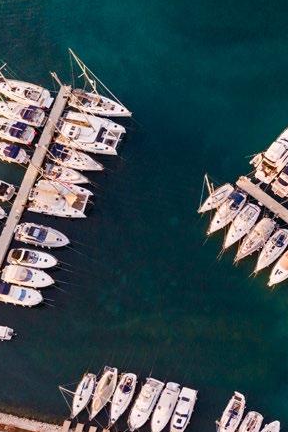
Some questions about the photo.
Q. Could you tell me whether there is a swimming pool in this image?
No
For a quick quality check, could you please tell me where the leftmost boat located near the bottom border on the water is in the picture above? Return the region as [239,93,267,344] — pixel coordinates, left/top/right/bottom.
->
[58,372,98,425]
